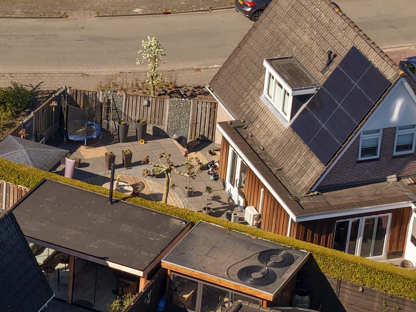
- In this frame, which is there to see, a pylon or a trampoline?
trampoline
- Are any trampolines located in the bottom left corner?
No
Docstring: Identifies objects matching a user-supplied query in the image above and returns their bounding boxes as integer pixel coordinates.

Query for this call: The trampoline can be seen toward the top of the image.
[68,92,108,148]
